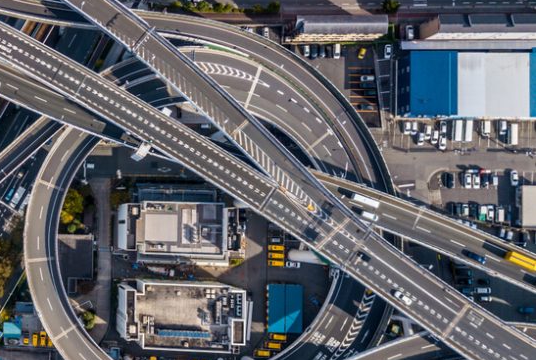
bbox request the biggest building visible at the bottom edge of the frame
[113,278,250,353]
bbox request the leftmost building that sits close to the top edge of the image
[287,15,390,45]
